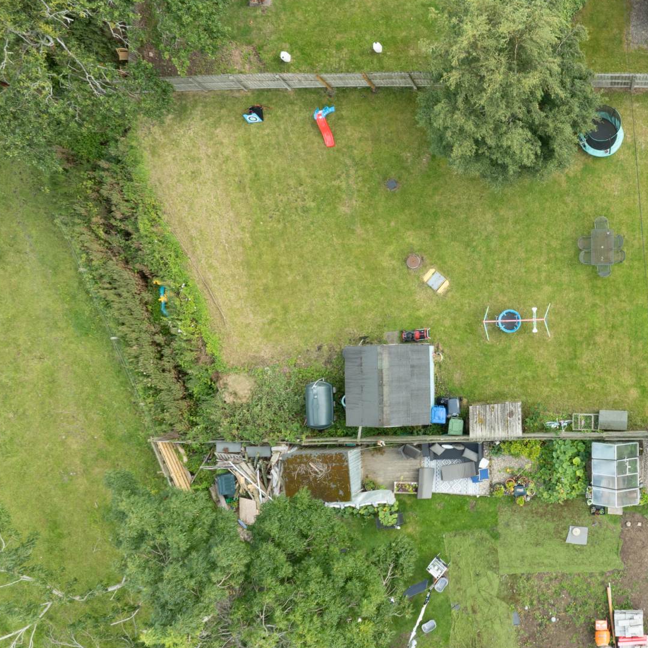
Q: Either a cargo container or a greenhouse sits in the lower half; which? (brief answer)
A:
greenhouse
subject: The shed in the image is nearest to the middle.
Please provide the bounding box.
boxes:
[344,332,433,441]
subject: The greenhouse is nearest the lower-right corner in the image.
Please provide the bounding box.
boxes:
[590,441,640,510]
